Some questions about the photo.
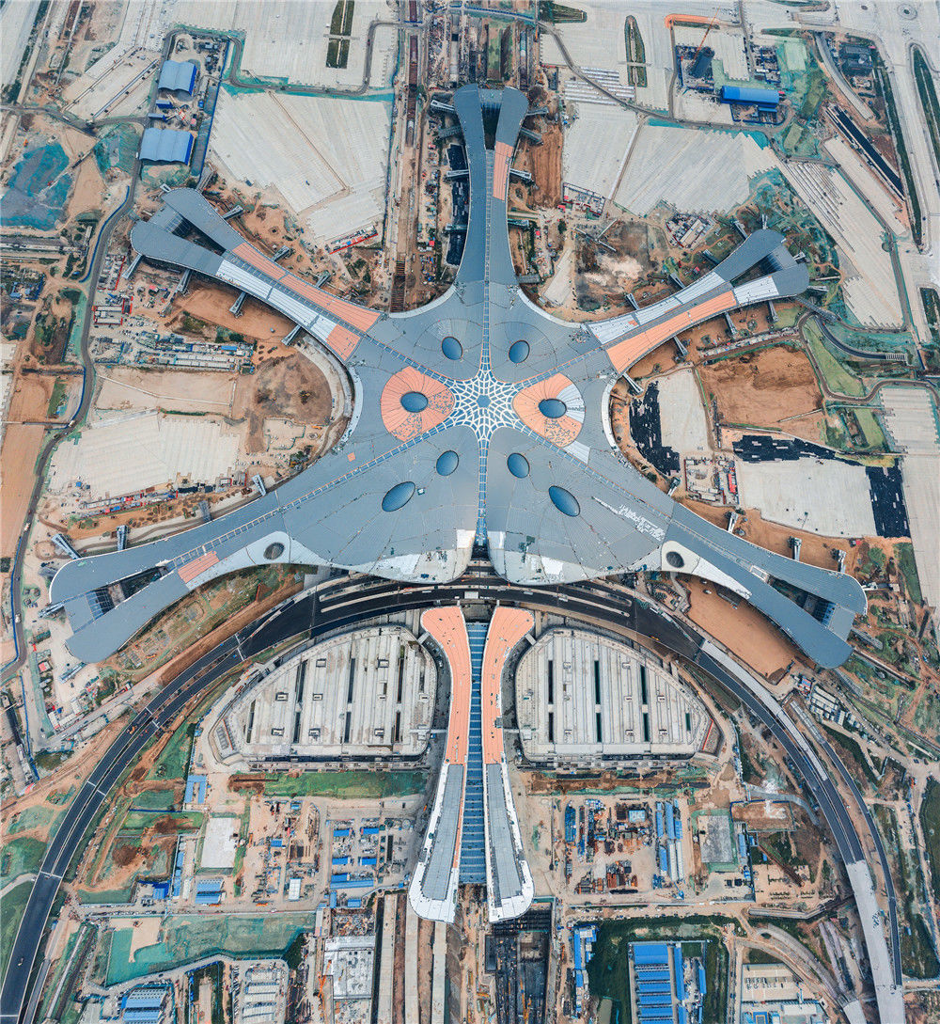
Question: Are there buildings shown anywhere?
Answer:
Yes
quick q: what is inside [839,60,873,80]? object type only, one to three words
building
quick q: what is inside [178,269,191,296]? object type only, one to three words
jet bridge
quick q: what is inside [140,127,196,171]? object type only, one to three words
hangar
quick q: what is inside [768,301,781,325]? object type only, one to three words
jet bridge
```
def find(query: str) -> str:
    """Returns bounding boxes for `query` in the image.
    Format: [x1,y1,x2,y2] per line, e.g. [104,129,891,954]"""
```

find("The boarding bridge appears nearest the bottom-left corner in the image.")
[57,660,87,685]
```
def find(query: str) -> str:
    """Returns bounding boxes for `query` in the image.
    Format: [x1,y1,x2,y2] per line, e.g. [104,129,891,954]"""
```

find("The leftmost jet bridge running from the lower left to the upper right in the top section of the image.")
[120,254,142,283]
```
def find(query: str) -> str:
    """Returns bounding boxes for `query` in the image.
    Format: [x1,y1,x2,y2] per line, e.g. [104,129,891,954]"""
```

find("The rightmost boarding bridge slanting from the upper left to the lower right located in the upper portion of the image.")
[793,295,837,324]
